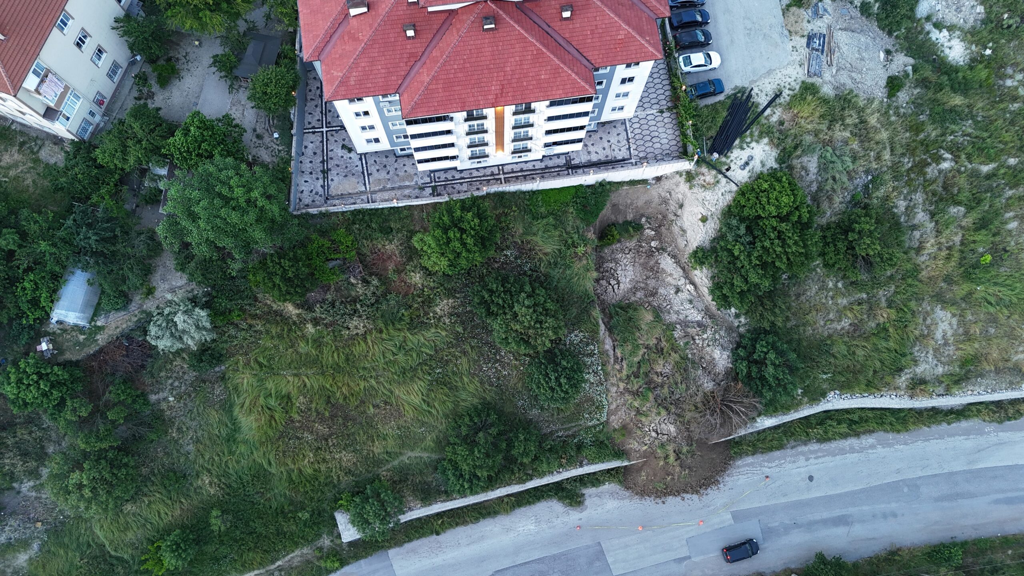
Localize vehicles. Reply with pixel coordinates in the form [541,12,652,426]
[720,539,758,564]
[667,0,707,13]
[669,8,710,31]
[673,29,712,51]
[686,78,725,100]
[677,51,721,75]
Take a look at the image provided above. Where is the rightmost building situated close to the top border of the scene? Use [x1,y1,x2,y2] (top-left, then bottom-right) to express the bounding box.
[298,0,671,181]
